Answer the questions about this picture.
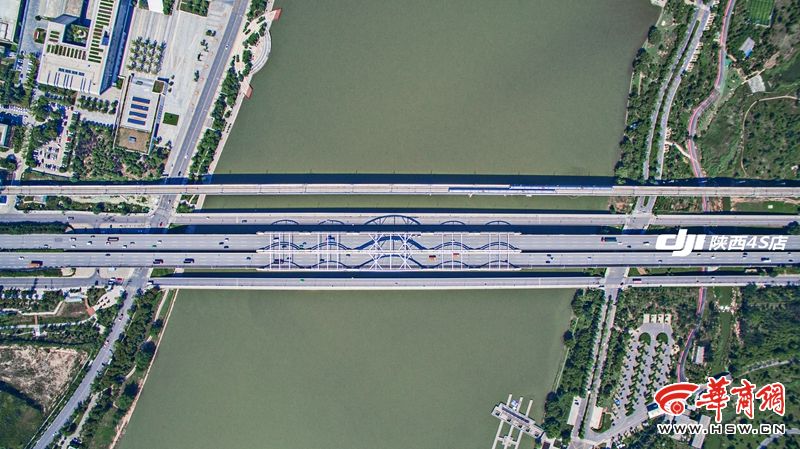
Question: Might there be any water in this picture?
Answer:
Yes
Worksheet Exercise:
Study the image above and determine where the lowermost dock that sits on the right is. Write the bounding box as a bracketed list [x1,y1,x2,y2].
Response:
[491,394,548,449]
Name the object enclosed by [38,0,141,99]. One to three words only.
building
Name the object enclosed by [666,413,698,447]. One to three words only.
building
